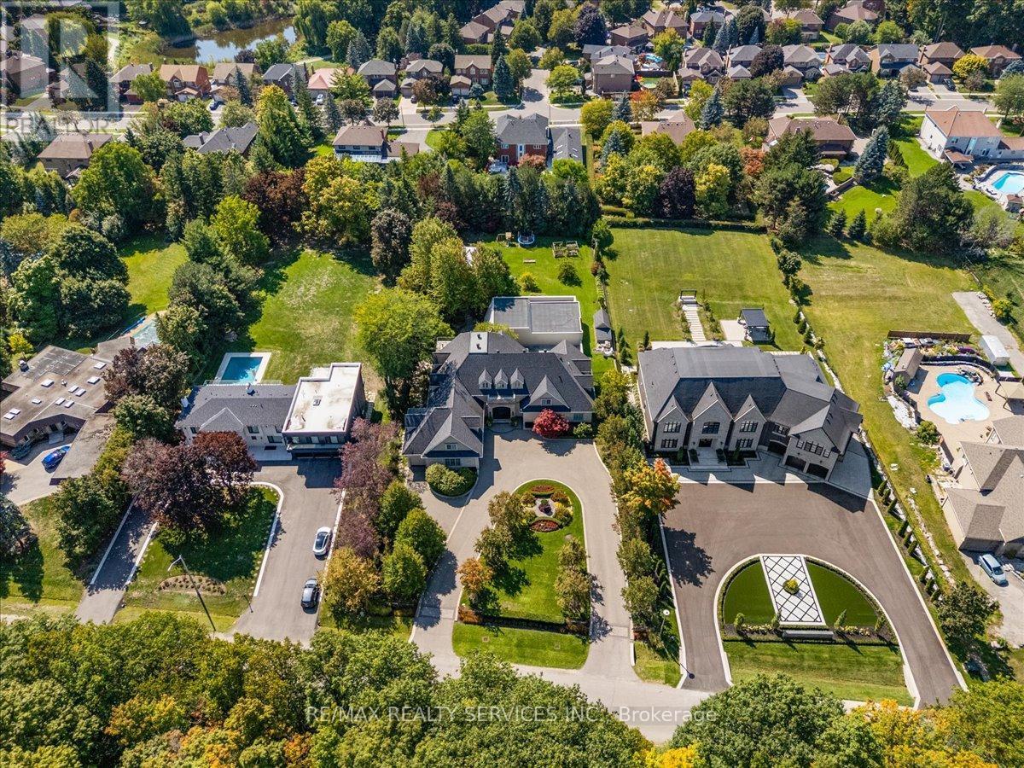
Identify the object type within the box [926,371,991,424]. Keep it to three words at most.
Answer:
swimming pool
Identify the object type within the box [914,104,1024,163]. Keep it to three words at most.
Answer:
house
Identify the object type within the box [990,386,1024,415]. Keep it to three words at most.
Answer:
gazebo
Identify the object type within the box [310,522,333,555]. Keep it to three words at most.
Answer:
car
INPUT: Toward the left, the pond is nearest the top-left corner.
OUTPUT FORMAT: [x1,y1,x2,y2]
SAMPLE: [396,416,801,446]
[161,20,296,61]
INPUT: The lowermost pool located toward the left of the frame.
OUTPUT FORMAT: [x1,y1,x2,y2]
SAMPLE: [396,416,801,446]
[219,355,264,380]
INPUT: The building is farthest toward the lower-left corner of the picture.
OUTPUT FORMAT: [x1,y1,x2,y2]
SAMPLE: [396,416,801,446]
[0,335,138,494]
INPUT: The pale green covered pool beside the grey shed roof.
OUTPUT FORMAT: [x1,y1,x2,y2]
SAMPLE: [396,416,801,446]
[129,309,161,346]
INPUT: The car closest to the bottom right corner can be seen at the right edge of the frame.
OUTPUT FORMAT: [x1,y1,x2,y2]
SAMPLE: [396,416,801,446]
[977,550,1010,584]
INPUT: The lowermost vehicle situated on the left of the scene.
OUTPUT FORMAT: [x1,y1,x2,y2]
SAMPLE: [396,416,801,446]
[296,574,320,609]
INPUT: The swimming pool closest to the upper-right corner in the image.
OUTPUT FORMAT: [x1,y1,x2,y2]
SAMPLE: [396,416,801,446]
[992,172,1024,195]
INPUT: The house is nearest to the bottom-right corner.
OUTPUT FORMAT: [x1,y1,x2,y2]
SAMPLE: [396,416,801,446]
[937,413,1024,574]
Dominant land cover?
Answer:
trees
